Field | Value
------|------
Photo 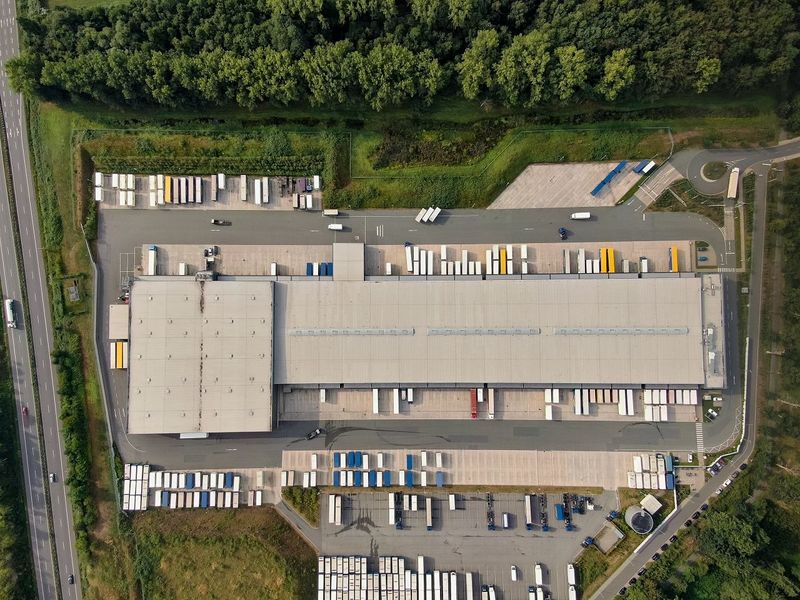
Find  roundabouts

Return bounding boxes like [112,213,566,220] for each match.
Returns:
[690,147,739,195]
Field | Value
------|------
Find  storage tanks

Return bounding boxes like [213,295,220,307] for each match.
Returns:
[623,505,654,534]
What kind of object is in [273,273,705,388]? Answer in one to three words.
warehouse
